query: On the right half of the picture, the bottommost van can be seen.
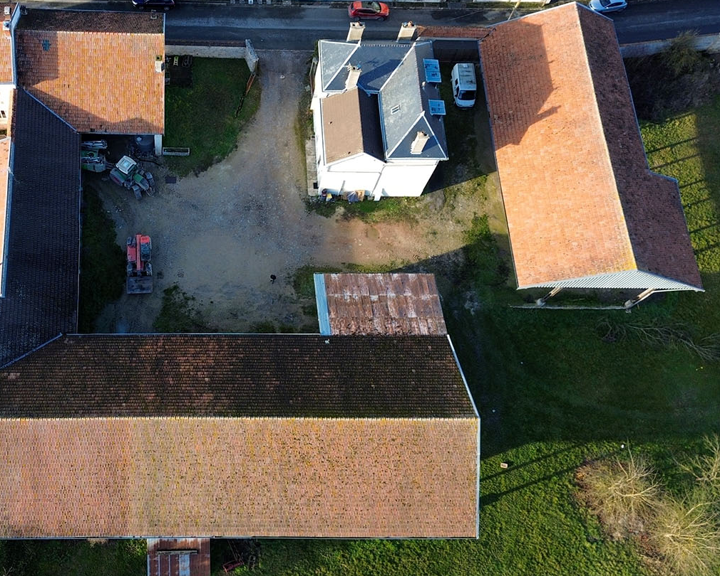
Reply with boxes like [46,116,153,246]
[451,56,481,109]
